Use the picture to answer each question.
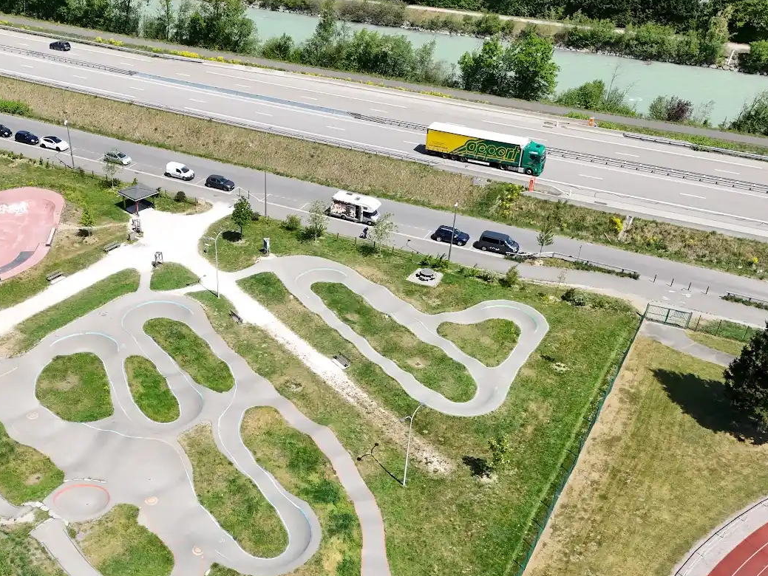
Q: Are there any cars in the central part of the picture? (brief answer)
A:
Yes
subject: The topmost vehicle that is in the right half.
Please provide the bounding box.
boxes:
[427,120,549,175]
